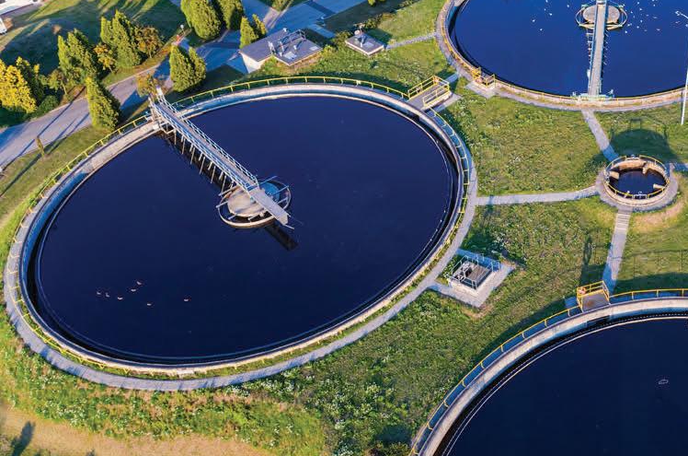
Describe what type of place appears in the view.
industrial area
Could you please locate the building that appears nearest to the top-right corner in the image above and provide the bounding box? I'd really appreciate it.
[346,26,384,61]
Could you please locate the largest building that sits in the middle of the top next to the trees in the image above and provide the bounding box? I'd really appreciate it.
[238,24,322,80]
